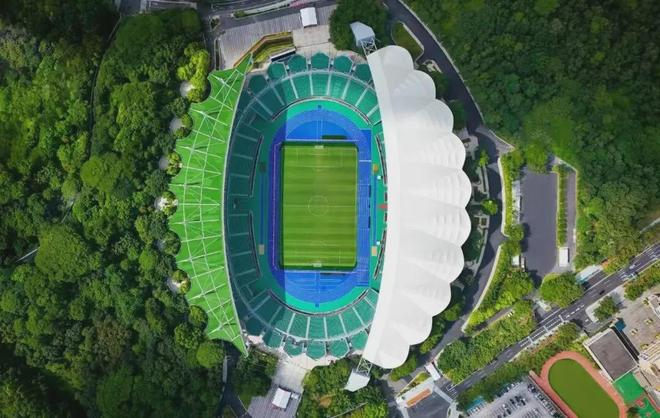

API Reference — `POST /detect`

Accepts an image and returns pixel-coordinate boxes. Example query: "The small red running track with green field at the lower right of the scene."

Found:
[532,350,632,418]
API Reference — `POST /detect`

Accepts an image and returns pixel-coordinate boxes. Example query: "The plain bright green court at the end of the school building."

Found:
[614,371,643,403]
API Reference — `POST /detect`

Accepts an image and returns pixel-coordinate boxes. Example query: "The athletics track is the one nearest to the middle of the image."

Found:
[239,99,387,312]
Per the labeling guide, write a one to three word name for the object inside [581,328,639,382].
building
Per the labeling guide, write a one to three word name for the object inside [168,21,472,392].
stadium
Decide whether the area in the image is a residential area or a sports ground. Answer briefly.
sports ground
